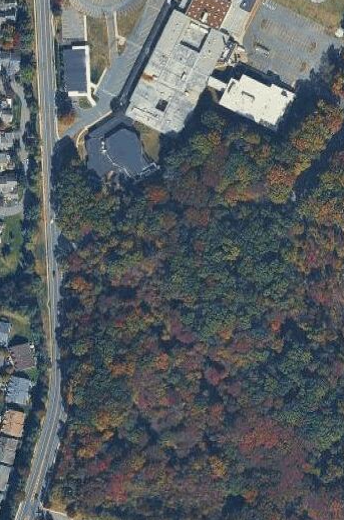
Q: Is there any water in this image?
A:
No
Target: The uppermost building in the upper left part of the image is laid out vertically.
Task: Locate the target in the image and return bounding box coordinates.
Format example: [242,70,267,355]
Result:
[63,45,96,106]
